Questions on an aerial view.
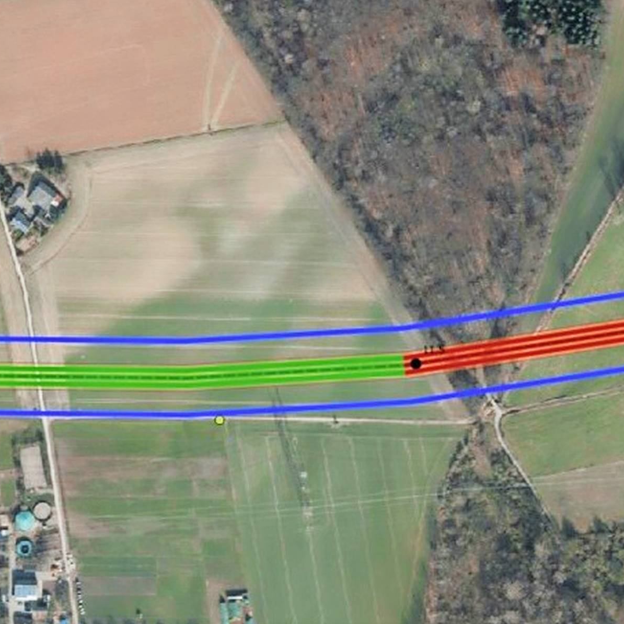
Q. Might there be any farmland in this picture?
Yes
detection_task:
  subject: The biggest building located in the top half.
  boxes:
[26,179,57,211]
